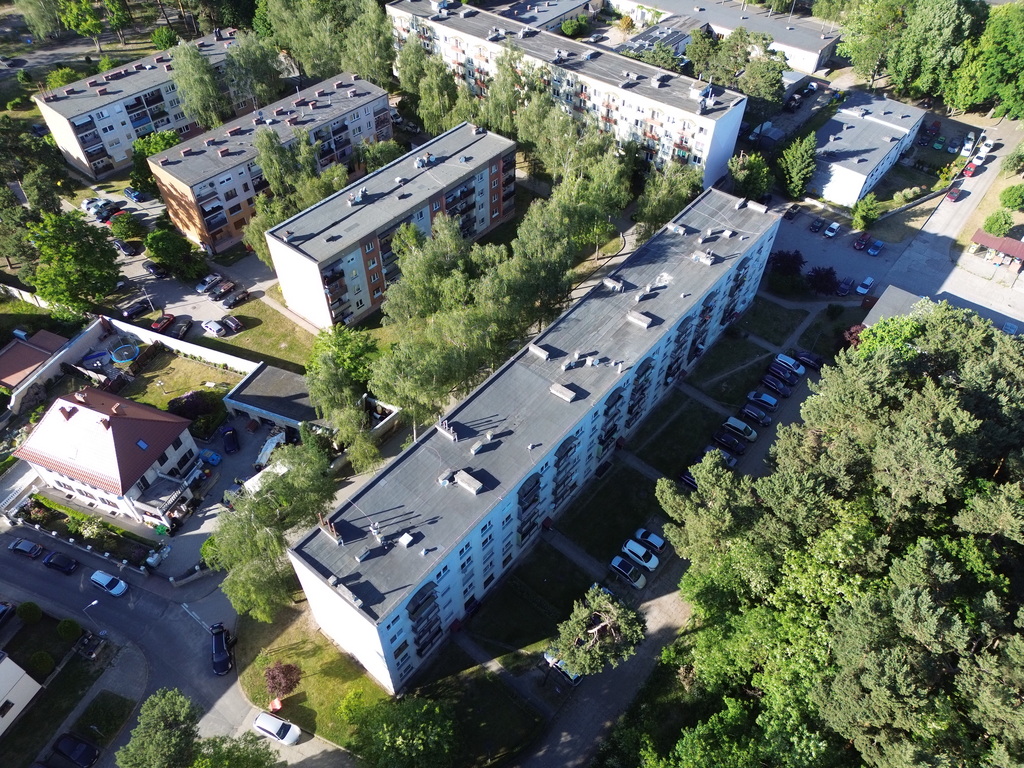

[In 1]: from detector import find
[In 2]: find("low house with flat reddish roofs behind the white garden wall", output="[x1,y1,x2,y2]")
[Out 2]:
[0,326,70,399]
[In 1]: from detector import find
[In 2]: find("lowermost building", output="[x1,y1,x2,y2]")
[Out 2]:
[0,643,42,731]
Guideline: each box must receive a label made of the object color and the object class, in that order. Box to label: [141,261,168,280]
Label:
black car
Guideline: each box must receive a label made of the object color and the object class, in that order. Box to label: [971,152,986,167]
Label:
white car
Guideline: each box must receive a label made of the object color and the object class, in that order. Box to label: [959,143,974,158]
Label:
white car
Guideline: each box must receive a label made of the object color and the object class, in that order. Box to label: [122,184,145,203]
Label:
blue car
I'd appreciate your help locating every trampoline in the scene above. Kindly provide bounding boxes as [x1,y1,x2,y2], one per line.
[106,335,141,365]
